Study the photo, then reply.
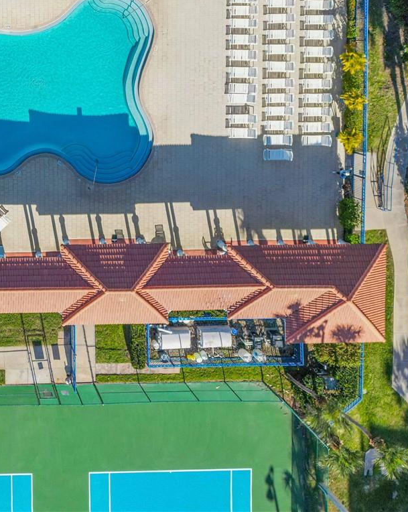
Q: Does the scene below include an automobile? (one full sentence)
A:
No, no automobile can be seen from above.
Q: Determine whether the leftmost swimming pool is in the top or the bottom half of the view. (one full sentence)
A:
It is in the top half that the leftmost swimming pool appears.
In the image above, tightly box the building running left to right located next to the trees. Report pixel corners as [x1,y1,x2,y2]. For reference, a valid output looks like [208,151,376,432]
[0,237,388,344]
